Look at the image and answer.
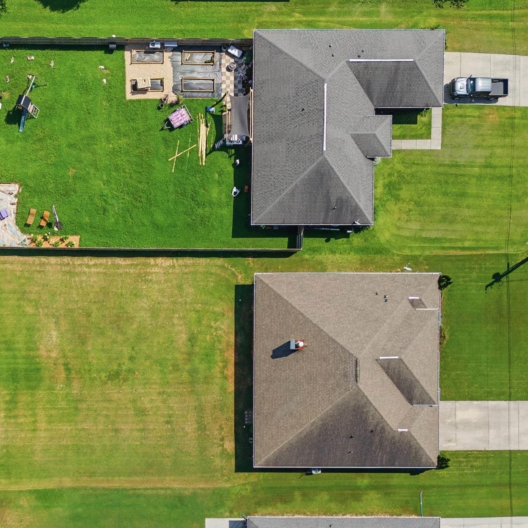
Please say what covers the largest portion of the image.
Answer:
grass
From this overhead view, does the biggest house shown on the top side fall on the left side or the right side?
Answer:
right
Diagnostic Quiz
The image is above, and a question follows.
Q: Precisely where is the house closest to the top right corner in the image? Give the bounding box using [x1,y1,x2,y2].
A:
[250,29,446,226]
